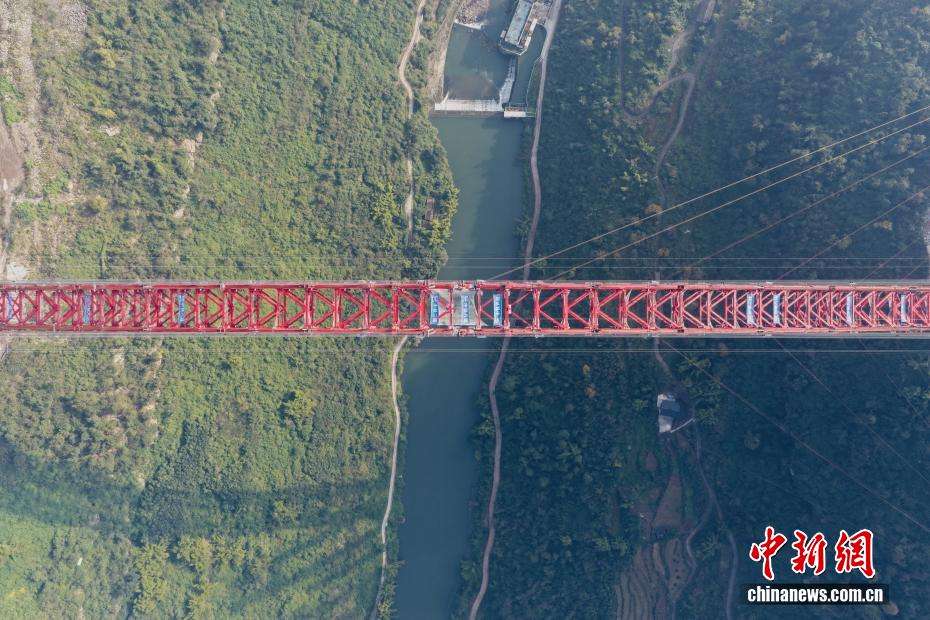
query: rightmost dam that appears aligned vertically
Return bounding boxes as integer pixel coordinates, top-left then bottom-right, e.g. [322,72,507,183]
[500,56,518,107]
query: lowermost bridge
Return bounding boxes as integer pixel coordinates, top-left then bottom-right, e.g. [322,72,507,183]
[0,281,930,339]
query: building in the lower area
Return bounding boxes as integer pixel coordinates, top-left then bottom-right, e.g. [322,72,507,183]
[658,394,680,432]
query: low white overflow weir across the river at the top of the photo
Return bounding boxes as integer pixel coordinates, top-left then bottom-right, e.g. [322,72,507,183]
[431,91,503,117]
